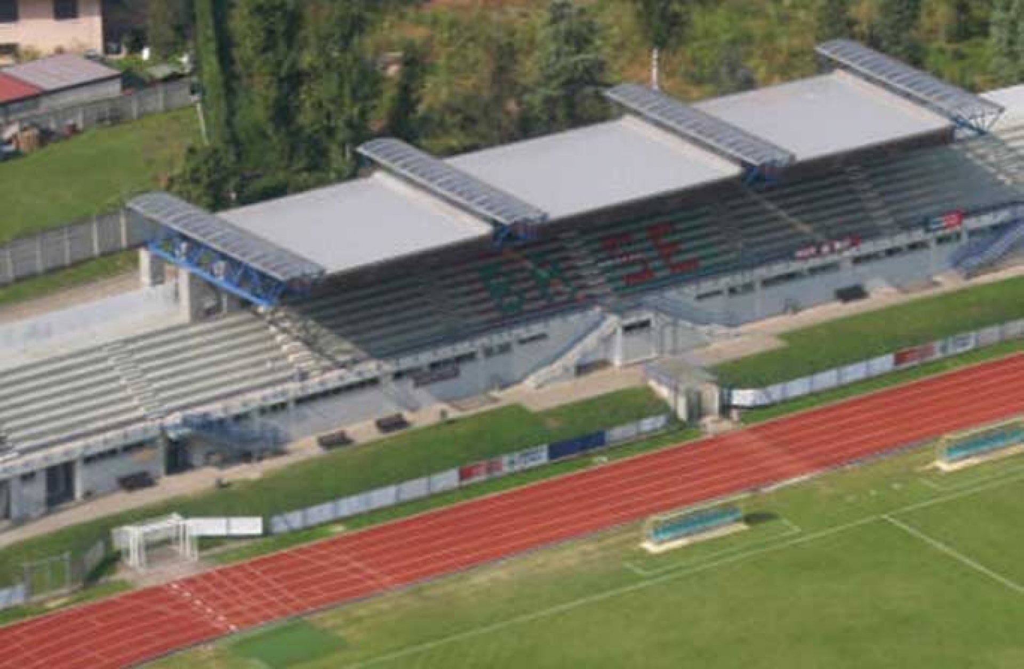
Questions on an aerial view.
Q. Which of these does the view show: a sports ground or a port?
sports ground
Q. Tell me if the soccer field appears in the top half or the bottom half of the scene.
bottom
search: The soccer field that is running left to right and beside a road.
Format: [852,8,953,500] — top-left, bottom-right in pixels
[117,417,1024,669]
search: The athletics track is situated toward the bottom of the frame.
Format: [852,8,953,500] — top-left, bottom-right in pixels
[0,353,1024,669]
